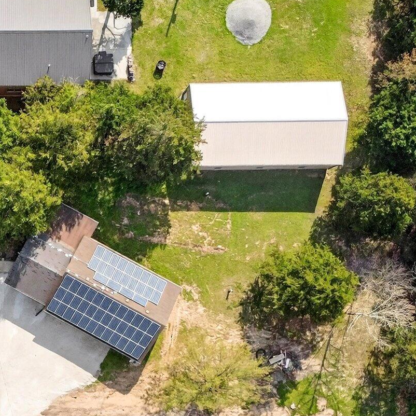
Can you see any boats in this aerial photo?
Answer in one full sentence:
No, this view has no boat in it.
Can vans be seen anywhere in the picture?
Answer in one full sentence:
No, I find no van anywhere in the image.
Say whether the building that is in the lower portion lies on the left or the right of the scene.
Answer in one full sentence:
The building that is in the lower portion is on the left side of the image.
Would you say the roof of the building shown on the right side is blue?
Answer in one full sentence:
No, from above the roof of the building shown on the right side looks white.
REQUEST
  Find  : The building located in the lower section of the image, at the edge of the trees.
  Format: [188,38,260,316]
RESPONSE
[4,202,182,364]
